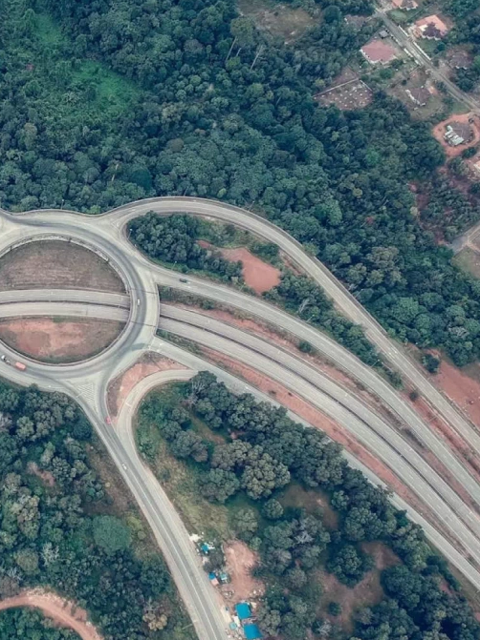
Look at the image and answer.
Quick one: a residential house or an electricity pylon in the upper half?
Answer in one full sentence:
The one visible in the upper half is a residential house.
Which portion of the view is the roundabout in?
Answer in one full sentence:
Look in the left portion of the view to spot the roundabout.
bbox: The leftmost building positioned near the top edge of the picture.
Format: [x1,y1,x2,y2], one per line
[341,10,370,30]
